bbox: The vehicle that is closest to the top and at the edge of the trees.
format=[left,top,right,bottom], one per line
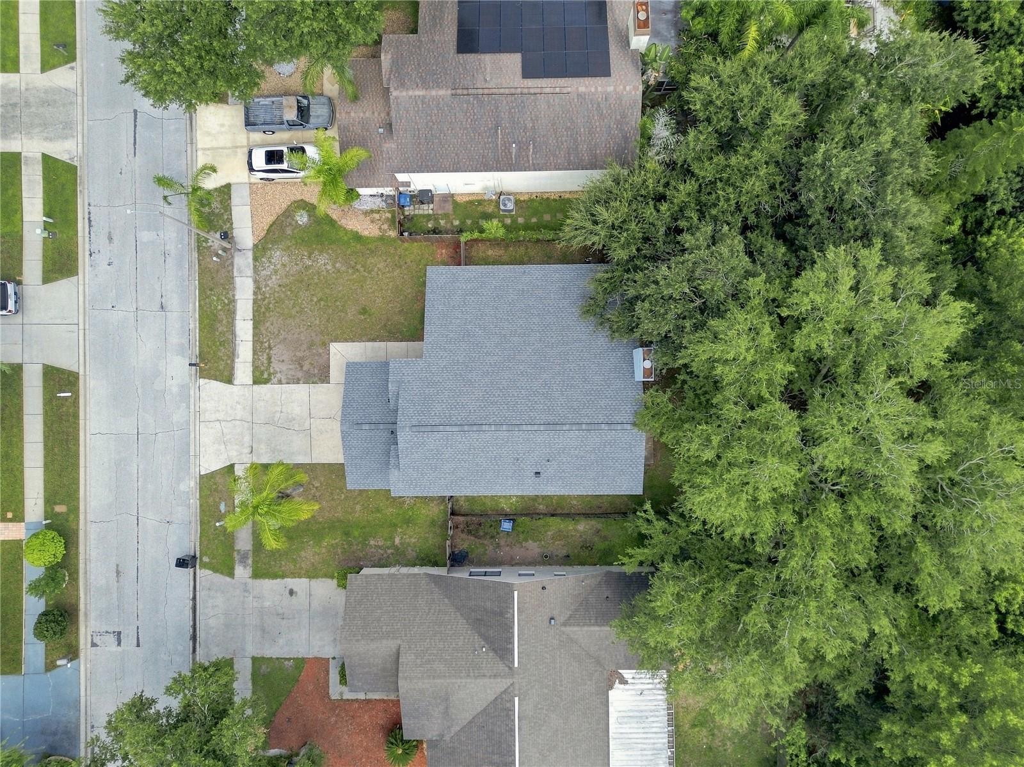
[242,92,336,132]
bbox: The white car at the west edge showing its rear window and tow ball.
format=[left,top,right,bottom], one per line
[0,284,23,314]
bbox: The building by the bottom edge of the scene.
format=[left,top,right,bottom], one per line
[341,564,666,767]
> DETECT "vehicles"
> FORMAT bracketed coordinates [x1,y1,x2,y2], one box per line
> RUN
[242,92,336,132]
[246,144,323,182]
[0,284,23,314]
